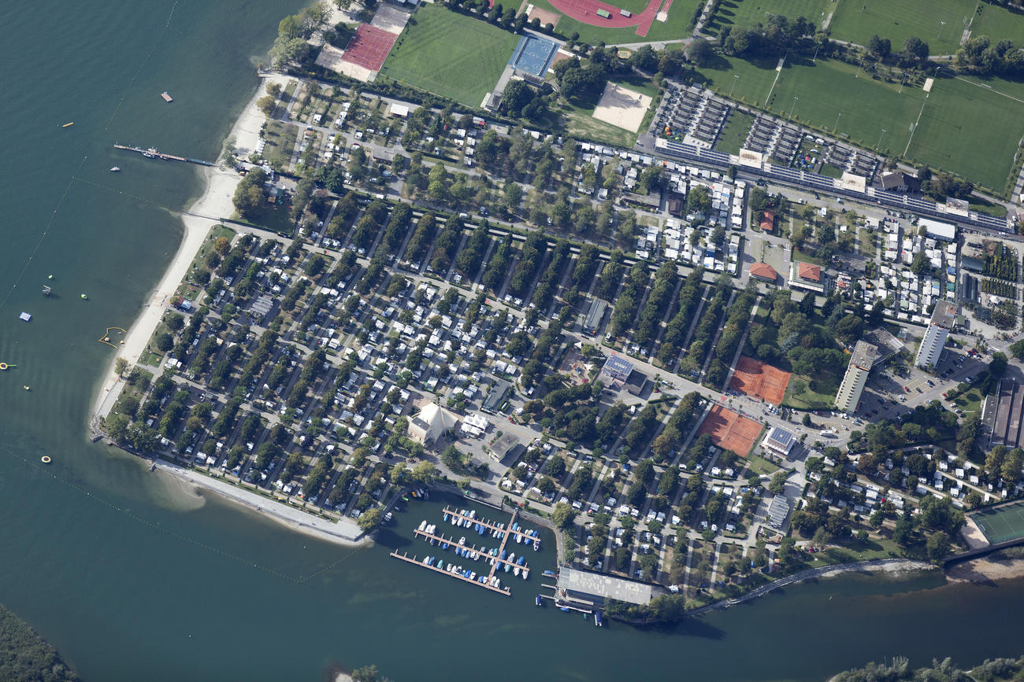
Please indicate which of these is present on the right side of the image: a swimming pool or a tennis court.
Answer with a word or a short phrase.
tennis court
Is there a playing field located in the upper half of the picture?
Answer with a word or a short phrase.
Yes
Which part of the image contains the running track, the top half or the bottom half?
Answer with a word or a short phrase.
top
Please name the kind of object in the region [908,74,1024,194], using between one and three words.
sports field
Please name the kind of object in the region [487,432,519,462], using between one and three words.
building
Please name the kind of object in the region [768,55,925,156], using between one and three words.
sports field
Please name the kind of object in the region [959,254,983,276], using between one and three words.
greenhouse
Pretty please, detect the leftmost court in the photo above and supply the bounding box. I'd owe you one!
[342,23,398,71]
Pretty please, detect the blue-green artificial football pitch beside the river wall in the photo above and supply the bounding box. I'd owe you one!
[971,502,1024,544]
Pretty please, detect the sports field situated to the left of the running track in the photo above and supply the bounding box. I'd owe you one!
[380,2,513,108]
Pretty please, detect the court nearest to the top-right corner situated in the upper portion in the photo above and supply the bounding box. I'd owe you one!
[593,82,652,132]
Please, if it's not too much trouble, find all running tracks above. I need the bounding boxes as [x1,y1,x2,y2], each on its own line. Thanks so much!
[549,0,672,36]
